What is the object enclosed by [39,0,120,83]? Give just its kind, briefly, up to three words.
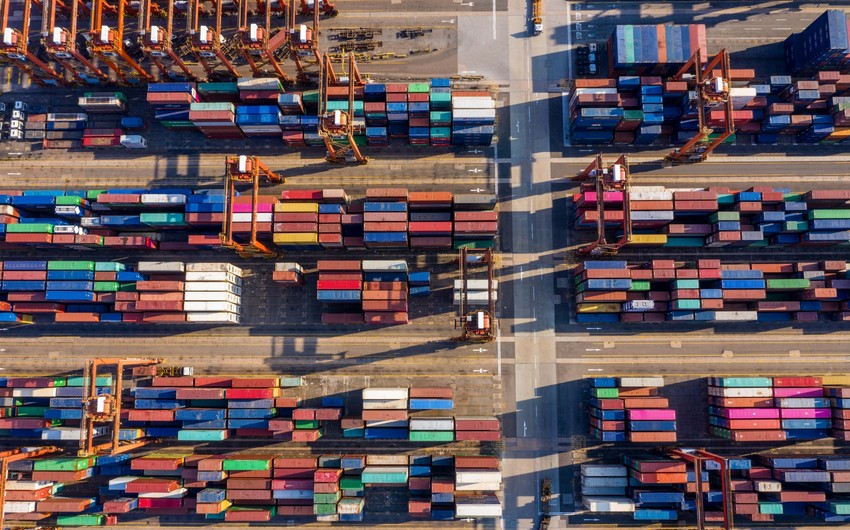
container crane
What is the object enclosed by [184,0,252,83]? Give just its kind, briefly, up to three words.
container crane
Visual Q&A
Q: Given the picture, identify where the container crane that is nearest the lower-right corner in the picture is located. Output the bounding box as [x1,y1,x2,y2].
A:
[659,446,733,530]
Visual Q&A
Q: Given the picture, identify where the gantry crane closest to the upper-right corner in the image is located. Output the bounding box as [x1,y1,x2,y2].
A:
[662,50,731,157]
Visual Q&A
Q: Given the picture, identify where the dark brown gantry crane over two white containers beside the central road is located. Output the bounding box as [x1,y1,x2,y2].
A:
[453,247,496,346]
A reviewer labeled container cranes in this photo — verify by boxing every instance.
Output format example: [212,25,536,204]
[0,0,76,83]
[234,0,296,83]
[81,356,168,456]
[662,50,731,157]
[574,151,632,253]
[85,0,165,83]
[184,0,252,83]
[221,154,286,255]
[39,0,120,83]
[659,446,733,530]
[283,0,339,83]
[453,247,496,346]
[0,444,68,530]
[135,0,208,83]
[316,51,369,159]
